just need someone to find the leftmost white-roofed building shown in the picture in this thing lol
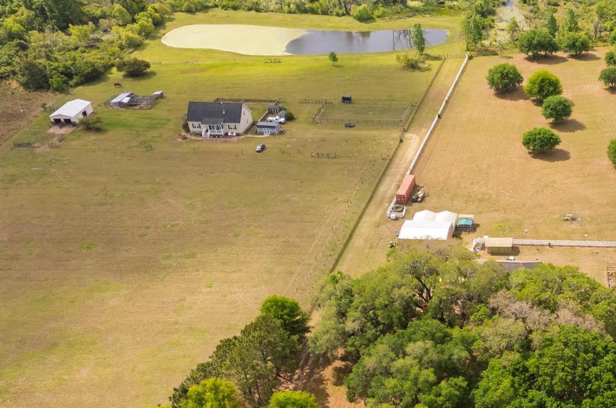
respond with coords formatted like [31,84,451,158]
[49,99,102,127]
